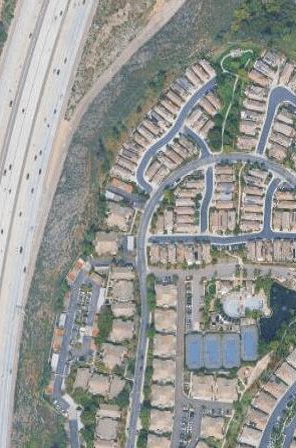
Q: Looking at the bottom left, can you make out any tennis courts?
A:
No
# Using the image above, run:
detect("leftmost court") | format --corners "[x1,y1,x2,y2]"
[186,333,202,368]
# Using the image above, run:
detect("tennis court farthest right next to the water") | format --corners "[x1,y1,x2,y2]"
[240,326,257,361]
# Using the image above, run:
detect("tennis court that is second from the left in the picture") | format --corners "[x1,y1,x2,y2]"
[203,333,221,368]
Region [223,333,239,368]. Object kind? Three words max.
tennis court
